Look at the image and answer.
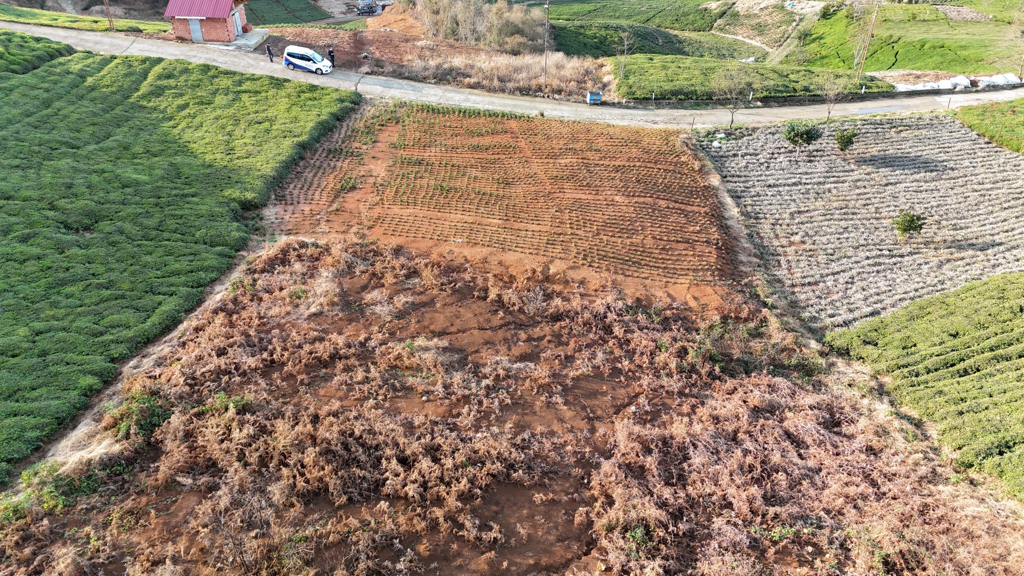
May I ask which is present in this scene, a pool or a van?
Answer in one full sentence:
Looking from above, you can make out a van.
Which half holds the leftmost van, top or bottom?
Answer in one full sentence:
The leftmost van sits in the top half of the picture.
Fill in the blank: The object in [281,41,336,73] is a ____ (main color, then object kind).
white van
